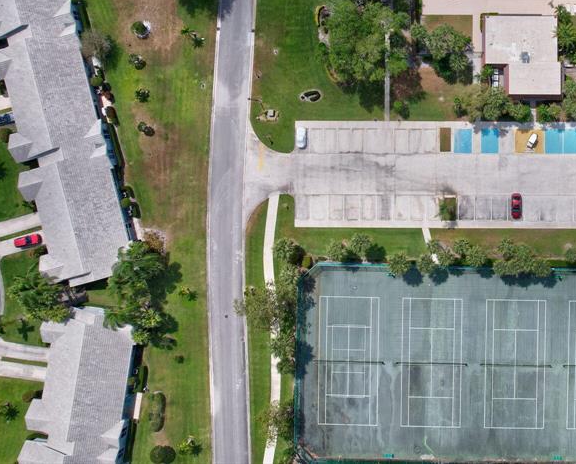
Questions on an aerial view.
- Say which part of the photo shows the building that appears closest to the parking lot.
top right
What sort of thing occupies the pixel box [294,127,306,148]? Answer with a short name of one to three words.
vehicle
